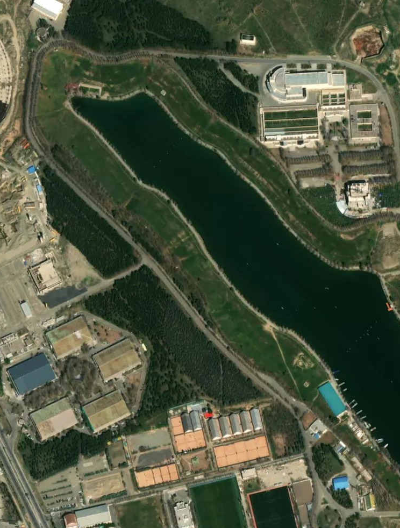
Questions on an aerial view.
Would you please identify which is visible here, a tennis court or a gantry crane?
tennis court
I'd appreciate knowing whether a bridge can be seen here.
No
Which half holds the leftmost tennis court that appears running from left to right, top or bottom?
bottom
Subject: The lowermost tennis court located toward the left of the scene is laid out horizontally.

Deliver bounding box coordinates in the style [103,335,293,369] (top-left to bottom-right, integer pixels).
[135,463,180,488]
